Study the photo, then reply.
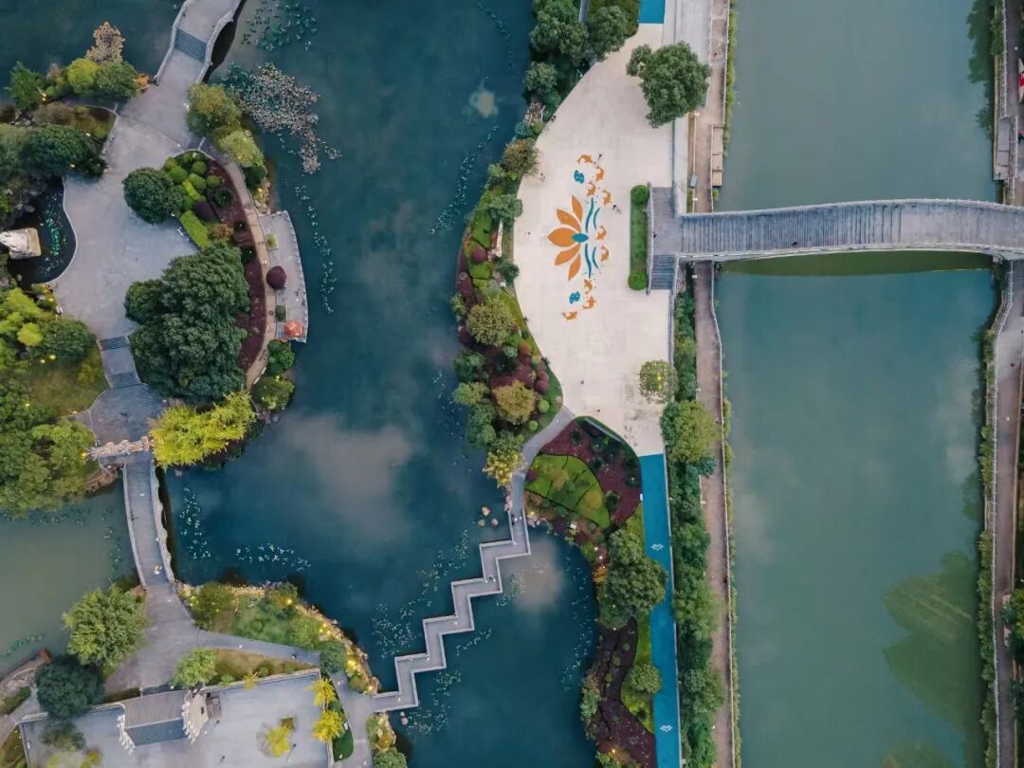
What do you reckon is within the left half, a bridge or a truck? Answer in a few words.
bridge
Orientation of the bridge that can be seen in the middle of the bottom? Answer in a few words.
on a diagonal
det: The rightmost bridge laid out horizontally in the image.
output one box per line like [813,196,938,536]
[680,202,1024,260]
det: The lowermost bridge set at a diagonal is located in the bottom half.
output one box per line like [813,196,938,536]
[373,508,532,716]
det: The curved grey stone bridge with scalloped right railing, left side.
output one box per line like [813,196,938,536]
[119,461,178,589]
